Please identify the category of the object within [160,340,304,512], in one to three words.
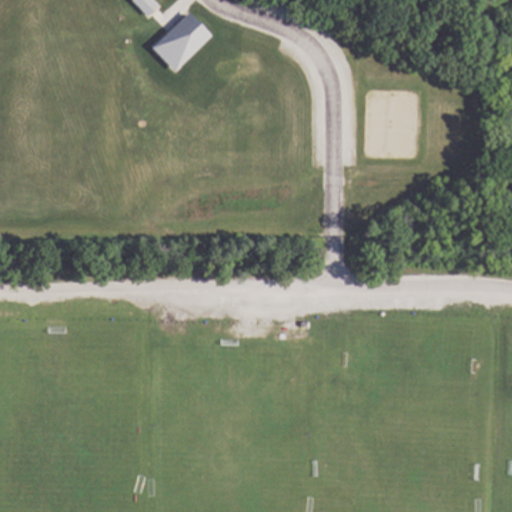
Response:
soccer field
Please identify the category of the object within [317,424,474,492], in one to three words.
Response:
soccer field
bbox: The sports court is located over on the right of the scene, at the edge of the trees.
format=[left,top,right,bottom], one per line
[364,90,419,158]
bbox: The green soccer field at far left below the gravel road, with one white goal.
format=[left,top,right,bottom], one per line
[0,326,138,512]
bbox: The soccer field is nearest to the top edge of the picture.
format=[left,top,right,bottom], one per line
[343,322,476,412]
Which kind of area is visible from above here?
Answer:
sports ground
